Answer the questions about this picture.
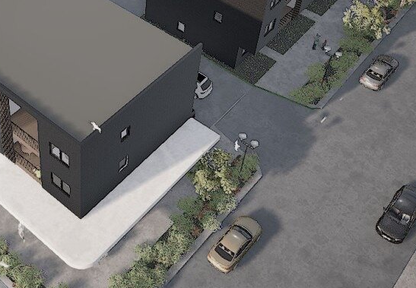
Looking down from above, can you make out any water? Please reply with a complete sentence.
No, the scene doesn't show any water.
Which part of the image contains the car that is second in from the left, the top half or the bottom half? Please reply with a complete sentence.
It is in the bottom half that the car that is second in from the left appears.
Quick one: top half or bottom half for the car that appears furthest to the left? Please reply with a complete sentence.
The car that appears furthest to the left is in the top half of the image.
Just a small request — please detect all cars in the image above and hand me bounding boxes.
[376,189,416,244]
[194,70,218,101]
[208,219,259,275]
[363,58,398,91]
